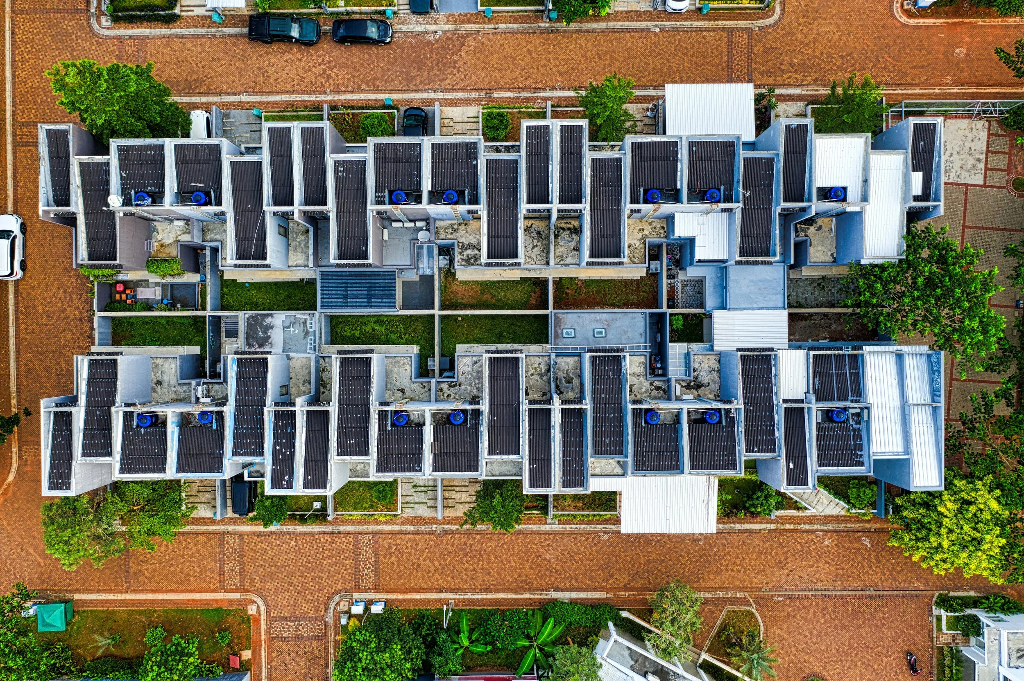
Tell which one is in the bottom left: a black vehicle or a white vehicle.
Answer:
black vehicle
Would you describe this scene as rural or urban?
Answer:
urban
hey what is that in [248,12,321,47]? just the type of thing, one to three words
truck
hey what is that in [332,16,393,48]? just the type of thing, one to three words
car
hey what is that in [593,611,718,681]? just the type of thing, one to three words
house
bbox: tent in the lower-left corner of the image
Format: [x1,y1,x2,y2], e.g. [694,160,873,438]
[37,592,85,631]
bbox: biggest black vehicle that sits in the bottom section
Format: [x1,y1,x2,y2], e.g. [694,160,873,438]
[224,472,253,523]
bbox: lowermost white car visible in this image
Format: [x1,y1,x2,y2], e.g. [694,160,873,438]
[0,216,30,278]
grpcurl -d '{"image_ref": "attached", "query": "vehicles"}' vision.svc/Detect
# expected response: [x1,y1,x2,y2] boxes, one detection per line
[905,650,924,675]
[0,216,30,278]
[665,0,690,13]
[183,105,212,138]
[224,472,253,523]
[654,0,659,15]
[400,109,427,136]
[248,12,321,47]
[332,16,393,48]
